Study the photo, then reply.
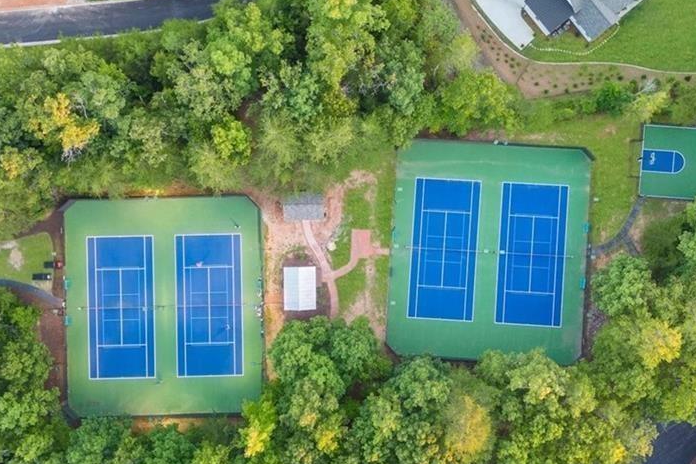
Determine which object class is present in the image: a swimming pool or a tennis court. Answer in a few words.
tennis court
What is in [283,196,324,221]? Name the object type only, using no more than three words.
shed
